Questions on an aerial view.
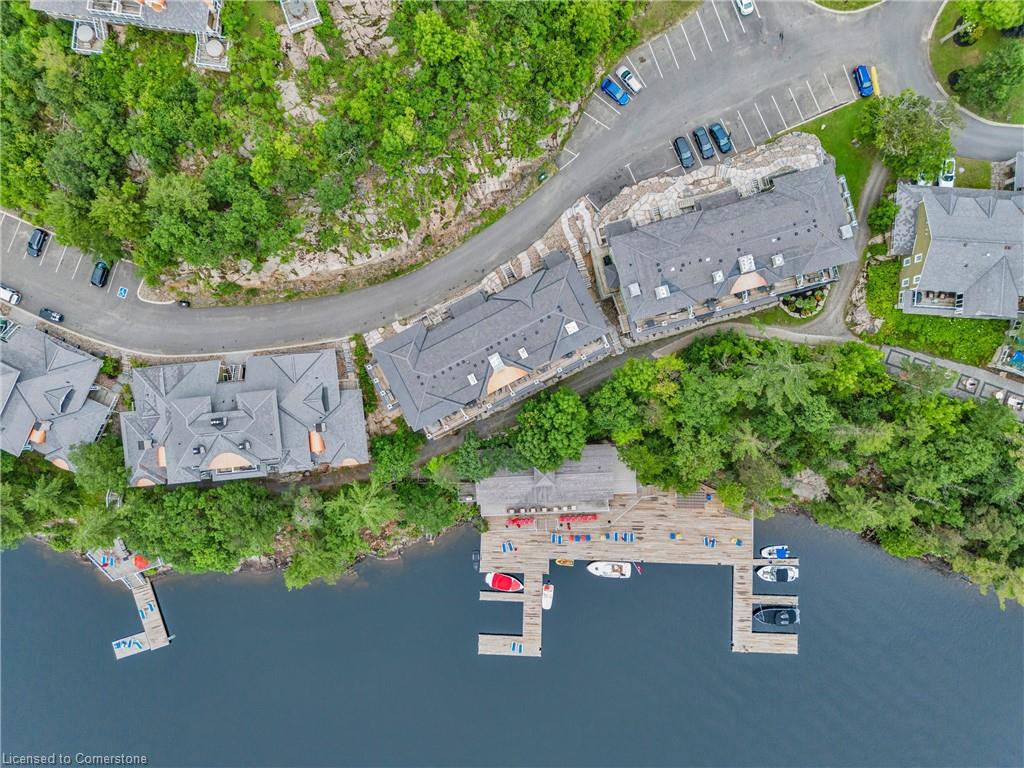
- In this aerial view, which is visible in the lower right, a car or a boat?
boat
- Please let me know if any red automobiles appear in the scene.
No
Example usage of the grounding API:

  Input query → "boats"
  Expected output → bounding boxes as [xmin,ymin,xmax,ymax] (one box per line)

[542,582,554,611]
[763,546,795,558]
[556,560,574,566]
[481,573,523,592]
[473,551,480,571]
[752,610,800,626]
[587,563,646,579]
[758,565,800,582]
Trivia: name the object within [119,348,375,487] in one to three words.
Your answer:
house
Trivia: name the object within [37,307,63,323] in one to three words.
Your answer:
car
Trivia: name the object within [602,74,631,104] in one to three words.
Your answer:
car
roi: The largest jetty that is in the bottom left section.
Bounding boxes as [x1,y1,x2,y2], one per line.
[112,577,172,660]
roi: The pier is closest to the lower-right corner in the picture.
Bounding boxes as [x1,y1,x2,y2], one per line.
[477,484,799,657]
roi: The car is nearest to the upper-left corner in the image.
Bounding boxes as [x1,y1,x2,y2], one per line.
[22,225,47,258]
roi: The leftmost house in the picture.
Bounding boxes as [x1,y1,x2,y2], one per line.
[0,311,120,472]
